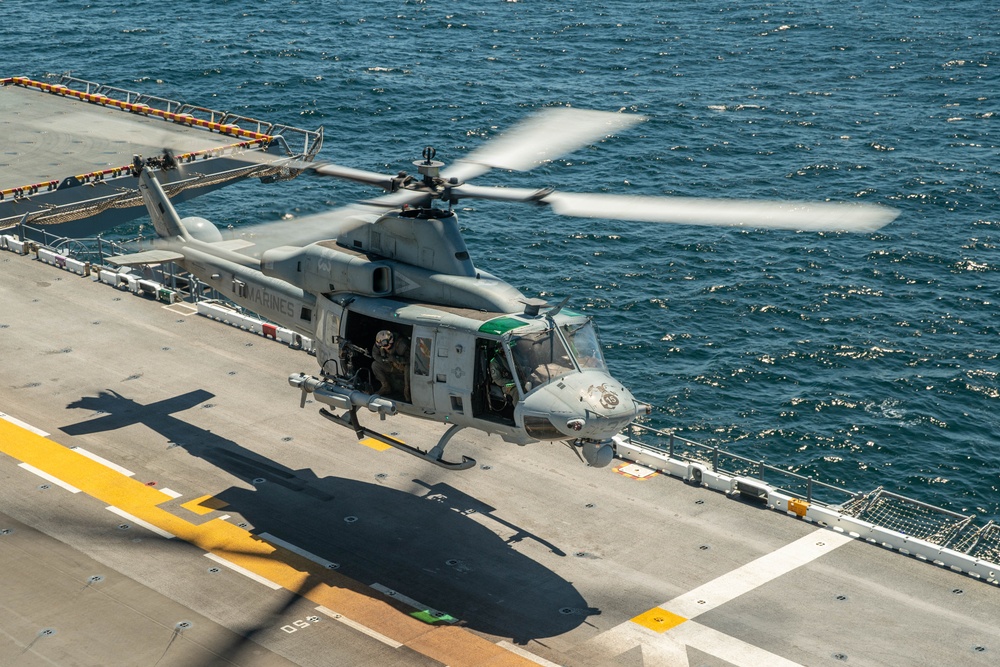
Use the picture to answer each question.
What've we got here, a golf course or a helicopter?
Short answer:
helicopter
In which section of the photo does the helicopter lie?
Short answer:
center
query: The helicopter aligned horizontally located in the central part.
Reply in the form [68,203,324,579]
[42,107,893,473]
